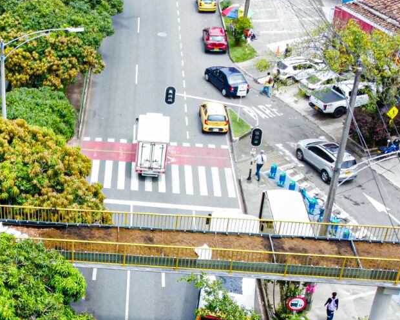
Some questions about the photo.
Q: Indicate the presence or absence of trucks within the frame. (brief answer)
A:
Yes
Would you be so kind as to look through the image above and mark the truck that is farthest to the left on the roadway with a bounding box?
[133,108,172,179]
